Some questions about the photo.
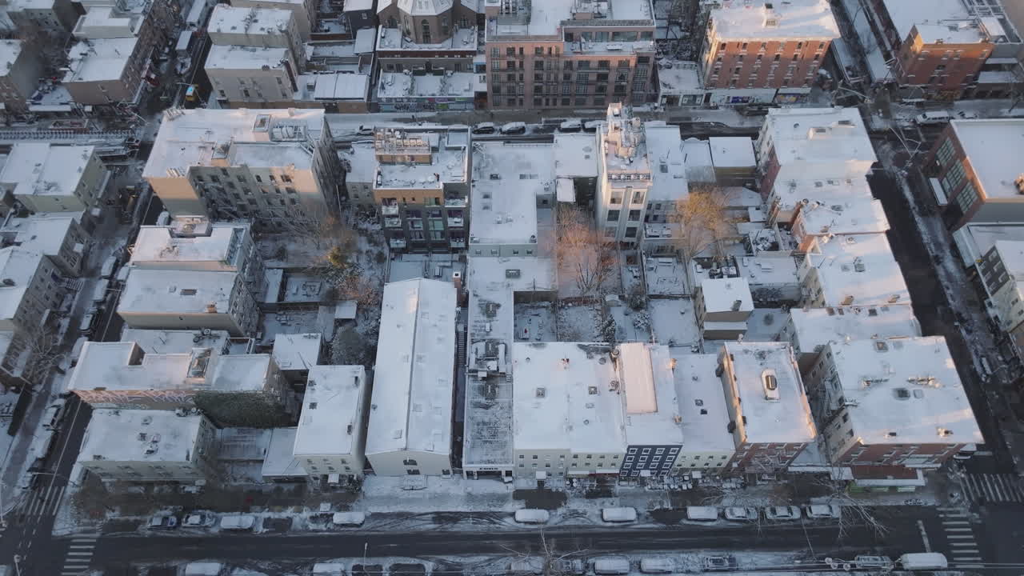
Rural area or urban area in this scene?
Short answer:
urban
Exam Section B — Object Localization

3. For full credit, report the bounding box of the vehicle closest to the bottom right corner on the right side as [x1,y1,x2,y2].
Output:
[902,552,946,571]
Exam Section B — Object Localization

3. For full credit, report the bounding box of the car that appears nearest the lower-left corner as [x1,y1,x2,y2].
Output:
[33,433,57,465]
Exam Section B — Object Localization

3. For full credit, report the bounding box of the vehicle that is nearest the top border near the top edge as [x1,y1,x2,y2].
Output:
[185,0,212,35]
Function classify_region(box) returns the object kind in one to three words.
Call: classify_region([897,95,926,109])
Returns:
car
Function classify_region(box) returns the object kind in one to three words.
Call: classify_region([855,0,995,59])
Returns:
building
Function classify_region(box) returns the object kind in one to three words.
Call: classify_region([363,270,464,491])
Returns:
building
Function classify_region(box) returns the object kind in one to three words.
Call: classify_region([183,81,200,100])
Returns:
vehicle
